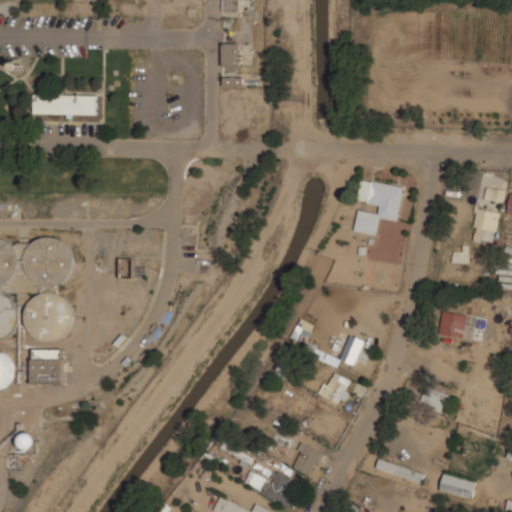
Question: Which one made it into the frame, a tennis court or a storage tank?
storage tank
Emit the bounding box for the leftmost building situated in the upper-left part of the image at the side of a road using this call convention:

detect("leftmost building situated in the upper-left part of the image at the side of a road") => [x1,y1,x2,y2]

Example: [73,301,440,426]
[32,95,98,121]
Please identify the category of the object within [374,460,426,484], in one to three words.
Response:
house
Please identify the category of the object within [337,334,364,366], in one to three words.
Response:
shed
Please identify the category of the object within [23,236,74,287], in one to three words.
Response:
storage tank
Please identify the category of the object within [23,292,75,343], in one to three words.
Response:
storage tank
